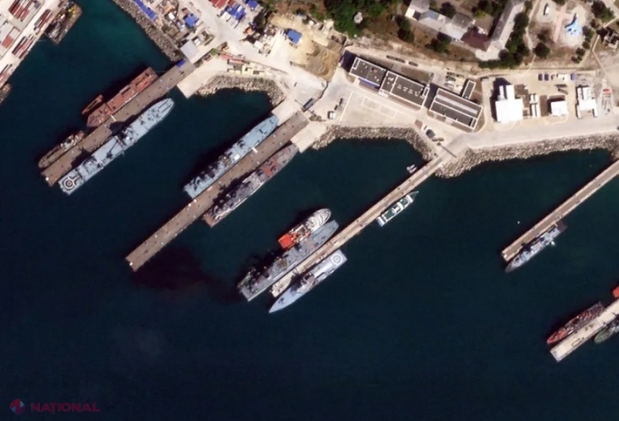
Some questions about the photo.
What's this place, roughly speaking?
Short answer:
port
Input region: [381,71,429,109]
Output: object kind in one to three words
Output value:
building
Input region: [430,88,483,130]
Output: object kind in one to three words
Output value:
building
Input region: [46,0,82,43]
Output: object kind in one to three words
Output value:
vessel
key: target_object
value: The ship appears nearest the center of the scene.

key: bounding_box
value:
[278,210,330,250]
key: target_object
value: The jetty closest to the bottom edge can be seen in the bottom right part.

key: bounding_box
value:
[549,299,619,362]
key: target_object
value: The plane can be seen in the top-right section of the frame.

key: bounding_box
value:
[565,13,579,36]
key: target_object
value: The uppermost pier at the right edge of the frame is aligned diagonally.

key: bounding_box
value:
[502,160,619,261]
